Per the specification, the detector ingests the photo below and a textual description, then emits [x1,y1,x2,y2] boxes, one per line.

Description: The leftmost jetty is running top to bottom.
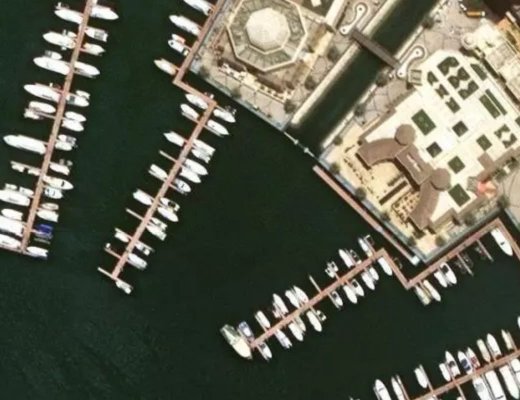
[10,0,111,259]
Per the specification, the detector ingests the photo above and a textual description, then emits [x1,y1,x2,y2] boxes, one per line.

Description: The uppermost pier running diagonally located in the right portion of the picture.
[313,166,420,262]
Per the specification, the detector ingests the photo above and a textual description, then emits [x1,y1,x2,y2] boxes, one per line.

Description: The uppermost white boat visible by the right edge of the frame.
[492,228,513,257]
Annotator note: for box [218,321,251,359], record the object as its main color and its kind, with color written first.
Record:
white ship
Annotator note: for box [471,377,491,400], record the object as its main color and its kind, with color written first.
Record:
white boat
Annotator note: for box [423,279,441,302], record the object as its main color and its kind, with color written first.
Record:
white boat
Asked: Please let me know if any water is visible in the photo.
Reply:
Yes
